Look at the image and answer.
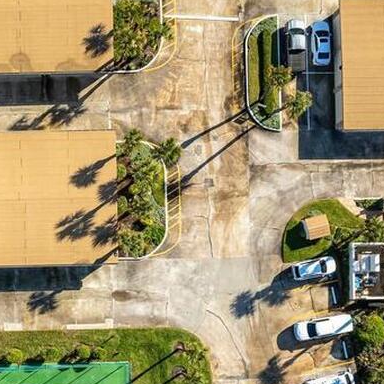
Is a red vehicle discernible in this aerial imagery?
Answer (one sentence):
No, no red vehicle is visible in the scene.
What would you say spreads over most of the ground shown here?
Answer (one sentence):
What you mostly see from above here is paved ground.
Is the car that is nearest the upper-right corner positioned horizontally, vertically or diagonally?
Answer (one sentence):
Seen from above, the car that is nearest the upper-right corner lies vertically.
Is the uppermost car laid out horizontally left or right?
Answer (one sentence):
It is on the right.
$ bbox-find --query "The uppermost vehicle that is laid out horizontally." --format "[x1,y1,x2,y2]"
[292,257,336,281]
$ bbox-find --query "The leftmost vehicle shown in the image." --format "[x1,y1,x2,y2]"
[284,22,308,73]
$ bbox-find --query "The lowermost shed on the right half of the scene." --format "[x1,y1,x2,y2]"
[297,212,332,239]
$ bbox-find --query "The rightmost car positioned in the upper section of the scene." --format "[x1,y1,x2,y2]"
[310,23,332,67]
